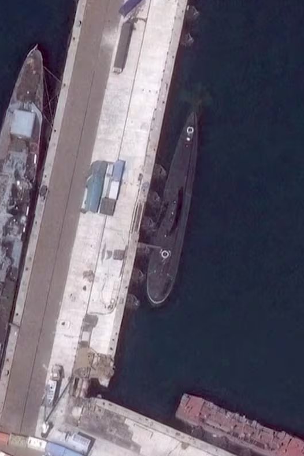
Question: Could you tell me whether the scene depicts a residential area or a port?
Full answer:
It's a port.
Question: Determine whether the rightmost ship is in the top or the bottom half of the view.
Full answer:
It is in the bottom half that the rightmost ship appears.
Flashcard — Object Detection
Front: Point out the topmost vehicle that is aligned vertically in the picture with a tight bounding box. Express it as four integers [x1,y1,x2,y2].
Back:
[114,22,132,79]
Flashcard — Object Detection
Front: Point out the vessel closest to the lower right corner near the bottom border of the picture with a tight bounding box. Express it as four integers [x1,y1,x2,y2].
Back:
[177,393,304,456]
